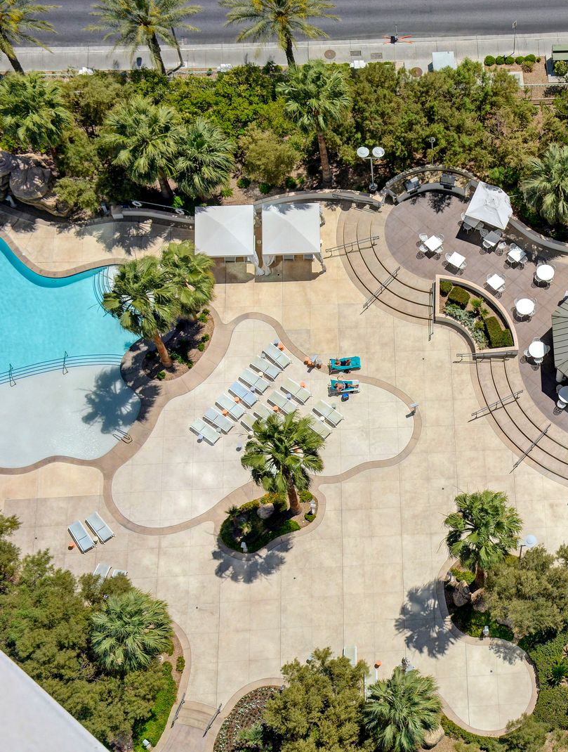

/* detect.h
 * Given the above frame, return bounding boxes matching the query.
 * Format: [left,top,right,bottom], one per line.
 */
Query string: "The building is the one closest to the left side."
[0,644,116,752]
